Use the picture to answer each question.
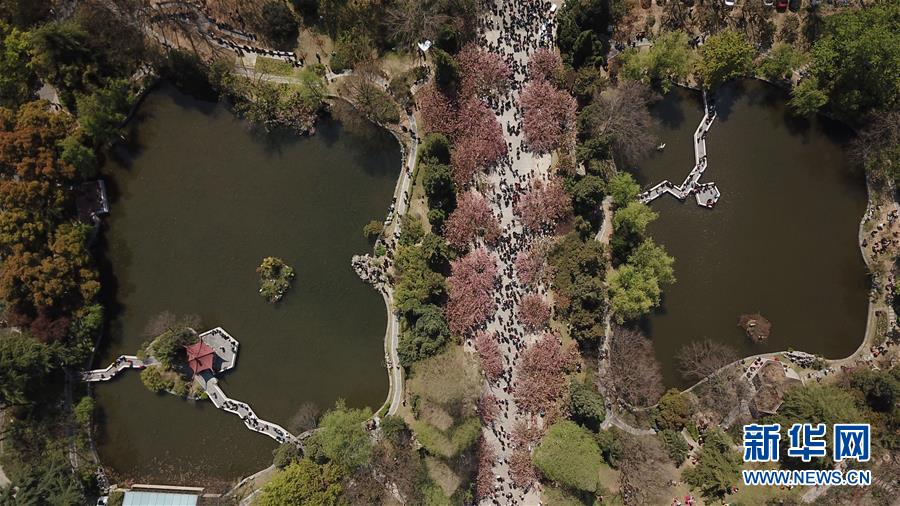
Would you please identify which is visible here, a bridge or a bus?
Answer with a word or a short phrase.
bridge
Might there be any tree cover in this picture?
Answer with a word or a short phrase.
Yes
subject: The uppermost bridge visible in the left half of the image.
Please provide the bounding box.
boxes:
[82,356,148,382]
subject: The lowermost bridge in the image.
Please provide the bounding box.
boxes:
[202,376,307,457]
